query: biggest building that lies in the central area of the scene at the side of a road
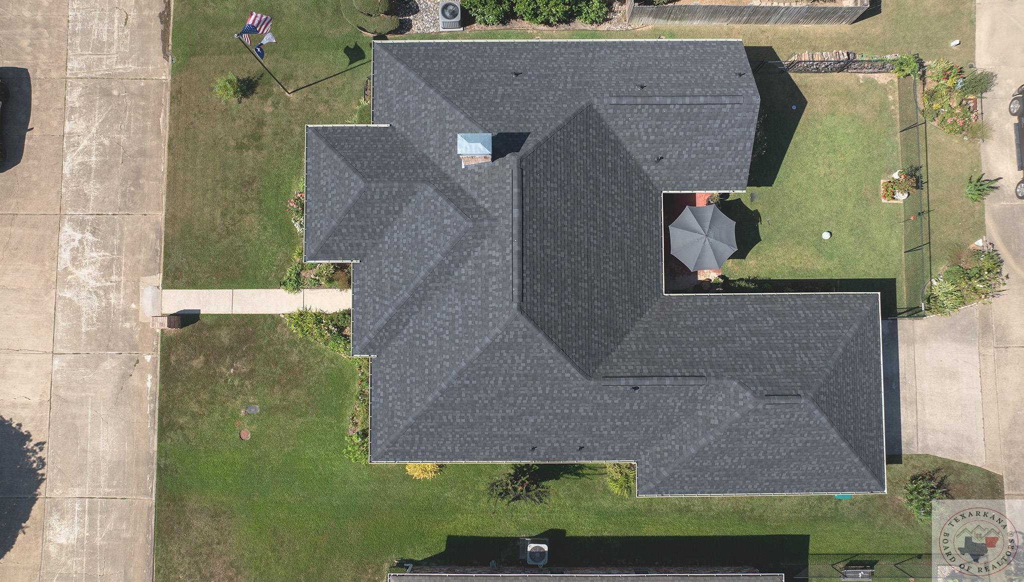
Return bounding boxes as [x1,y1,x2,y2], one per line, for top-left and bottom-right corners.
[303,40,887,496]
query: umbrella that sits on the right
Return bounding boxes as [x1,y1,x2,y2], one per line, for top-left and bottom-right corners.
[669,204,737,272]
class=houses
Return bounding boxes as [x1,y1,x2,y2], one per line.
[388,559,785,582]
[303,40,887,496]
